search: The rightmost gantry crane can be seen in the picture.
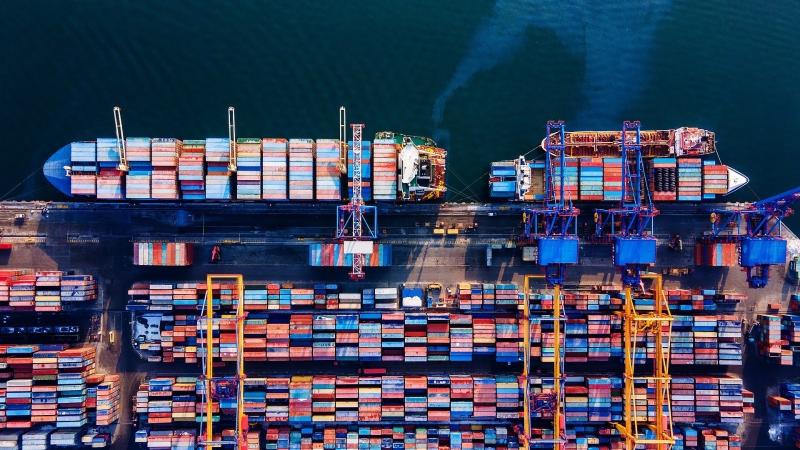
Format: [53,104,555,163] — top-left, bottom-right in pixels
[688,180,800,288]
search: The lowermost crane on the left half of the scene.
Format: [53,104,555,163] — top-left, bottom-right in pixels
[196,277,253,450]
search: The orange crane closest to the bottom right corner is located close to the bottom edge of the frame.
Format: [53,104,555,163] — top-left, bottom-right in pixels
[610,277,674,450]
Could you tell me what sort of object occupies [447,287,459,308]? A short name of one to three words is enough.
vehicle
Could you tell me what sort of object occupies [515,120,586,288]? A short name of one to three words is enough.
container crane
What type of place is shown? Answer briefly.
port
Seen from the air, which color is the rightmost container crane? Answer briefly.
blue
